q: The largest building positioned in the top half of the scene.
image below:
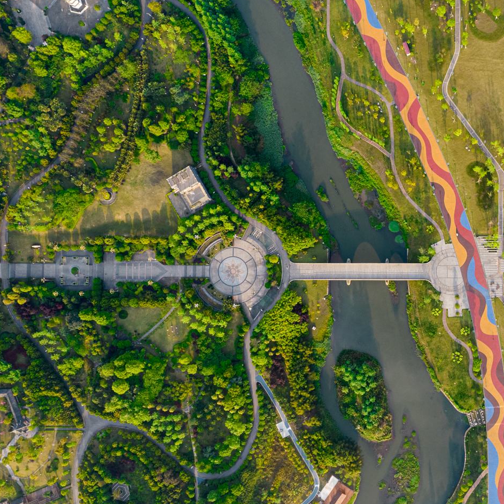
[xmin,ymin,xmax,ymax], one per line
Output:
[166,166,214,209]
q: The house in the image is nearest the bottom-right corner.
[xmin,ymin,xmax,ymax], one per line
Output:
[319,474,356,504]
